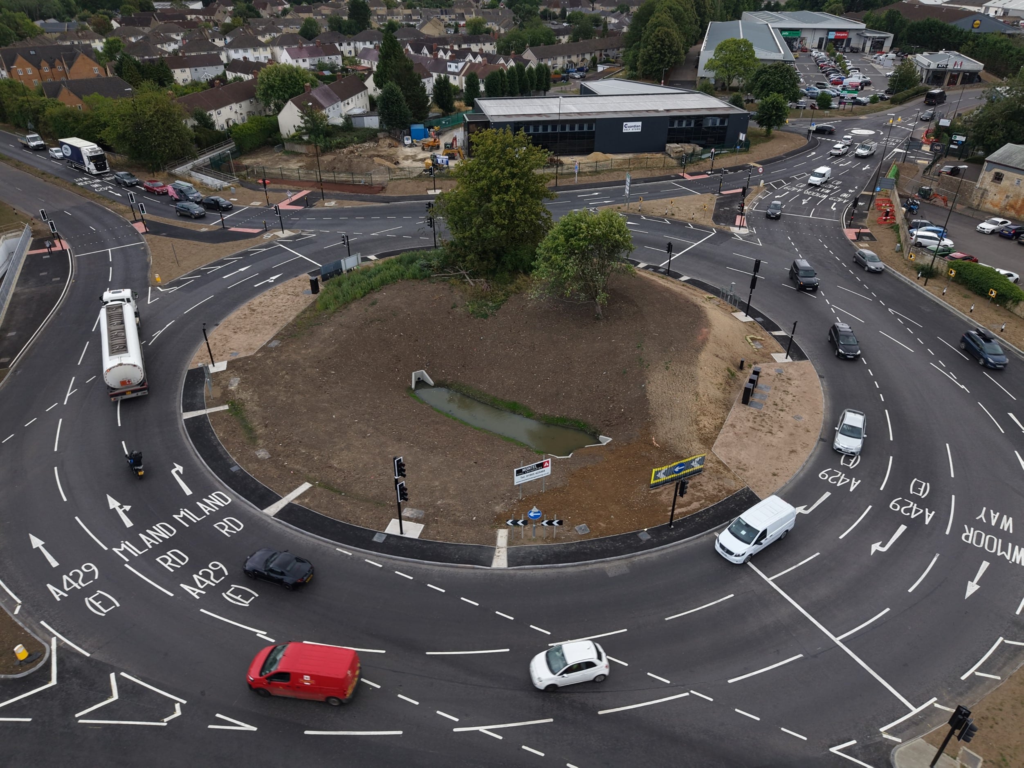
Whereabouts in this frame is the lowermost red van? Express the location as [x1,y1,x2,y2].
[248,642,366,707]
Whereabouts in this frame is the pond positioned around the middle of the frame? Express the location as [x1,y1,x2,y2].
[415,387,599,456]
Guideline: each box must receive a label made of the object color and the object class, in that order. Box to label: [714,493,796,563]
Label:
white van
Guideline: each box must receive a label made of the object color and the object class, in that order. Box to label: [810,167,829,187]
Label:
white vehicle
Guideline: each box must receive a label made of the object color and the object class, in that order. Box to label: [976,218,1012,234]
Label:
white car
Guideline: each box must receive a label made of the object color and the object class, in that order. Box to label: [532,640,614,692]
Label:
white car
